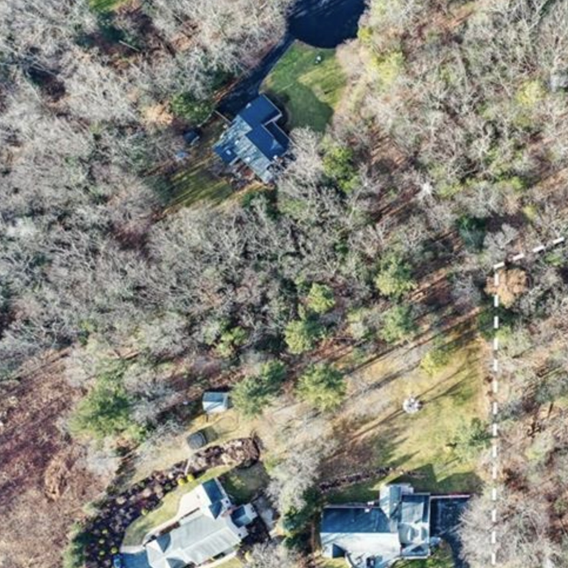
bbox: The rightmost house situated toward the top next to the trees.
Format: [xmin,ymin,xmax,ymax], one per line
[213,96,296,181]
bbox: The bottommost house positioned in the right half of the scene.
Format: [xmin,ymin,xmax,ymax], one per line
[320,478,434,562]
